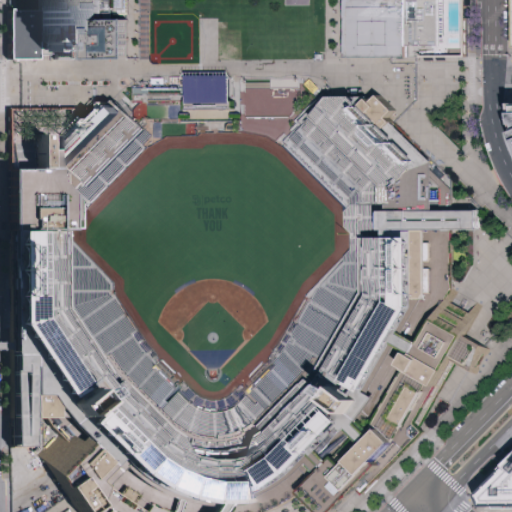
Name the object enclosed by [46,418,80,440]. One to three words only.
shed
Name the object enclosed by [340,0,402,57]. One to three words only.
building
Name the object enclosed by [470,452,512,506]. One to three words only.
building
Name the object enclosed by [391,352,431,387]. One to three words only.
house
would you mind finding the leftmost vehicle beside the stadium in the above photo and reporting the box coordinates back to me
[304,80,321,96]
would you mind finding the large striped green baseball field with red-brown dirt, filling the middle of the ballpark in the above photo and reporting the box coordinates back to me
[72,130,350,400]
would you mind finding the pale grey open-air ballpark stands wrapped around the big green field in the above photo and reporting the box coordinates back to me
[30,96,431,503]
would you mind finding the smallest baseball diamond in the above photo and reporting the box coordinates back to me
[151,12,200,64]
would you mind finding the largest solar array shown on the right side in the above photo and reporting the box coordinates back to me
[338,304,393,378]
